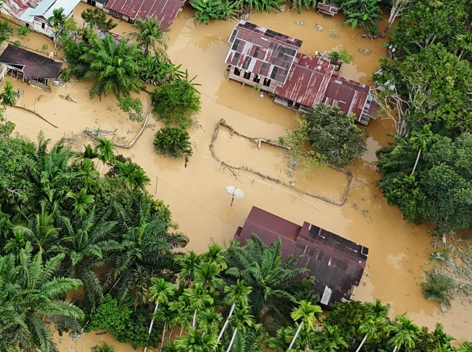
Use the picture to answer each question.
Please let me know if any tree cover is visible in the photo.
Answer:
Yes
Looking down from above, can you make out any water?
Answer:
Yes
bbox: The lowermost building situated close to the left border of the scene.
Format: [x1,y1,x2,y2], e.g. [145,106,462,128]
[0,44,63,90]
